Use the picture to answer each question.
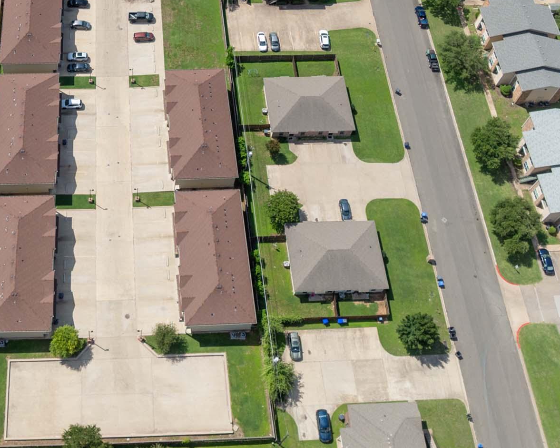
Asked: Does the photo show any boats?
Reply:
No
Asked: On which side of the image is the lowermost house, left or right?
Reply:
right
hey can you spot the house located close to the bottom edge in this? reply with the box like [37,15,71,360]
[339,401,427,448]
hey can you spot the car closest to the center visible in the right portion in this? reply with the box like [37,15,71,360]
[338,199,353,221]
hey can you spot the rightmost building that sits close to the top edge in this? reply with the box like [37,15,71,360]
[475,0,560,103]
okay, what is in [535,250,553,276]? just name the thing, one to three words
car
